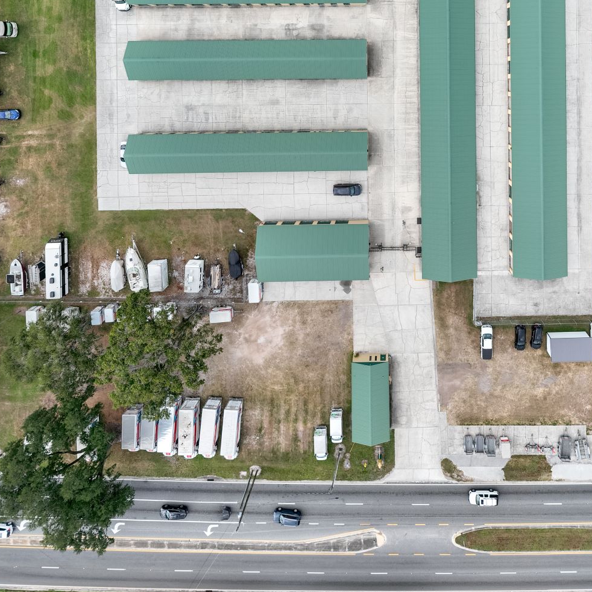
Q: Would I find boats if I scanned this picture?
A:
Yes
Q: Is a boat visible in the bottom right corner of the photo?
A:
No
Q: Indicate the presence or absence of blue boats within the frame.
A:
No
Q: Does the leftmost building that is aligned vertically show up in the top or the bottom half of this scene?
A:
bottom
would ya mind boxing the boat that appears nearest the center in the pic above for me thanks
[230,251,242,278]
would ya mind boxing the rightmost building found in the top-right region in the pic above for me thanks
[506,0,567,281]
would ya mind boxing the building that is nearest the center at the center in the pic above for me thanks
[254,219,370,280]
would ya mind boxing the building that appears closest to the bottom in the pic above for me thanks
[352,353,390,452]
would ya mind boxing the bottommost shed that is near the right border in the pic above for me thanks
[547,333,591,361]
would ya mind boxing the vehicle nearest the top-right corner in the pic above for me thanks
[333,184,361,198]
